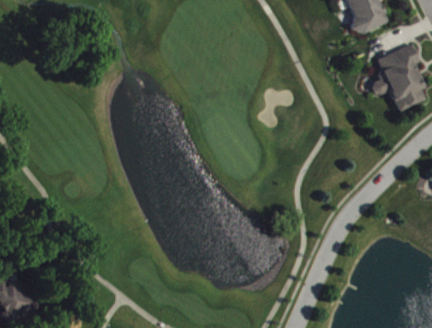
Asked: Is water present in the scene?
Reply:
Yes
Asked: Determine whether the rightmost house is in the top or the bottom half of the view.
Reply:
top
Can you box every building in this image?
[0,282,34,317]
[352,0,390,32]
[378,42,431,106]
